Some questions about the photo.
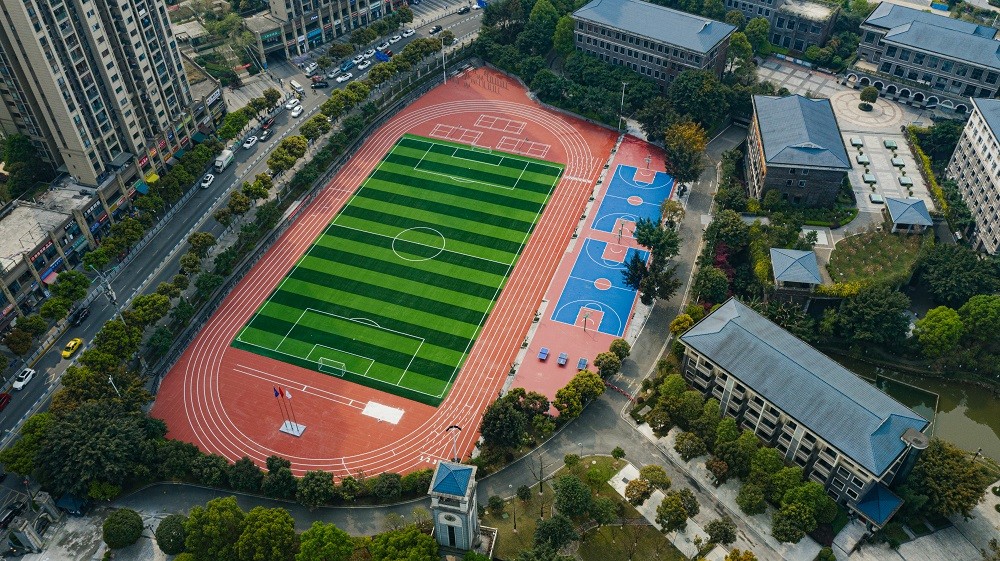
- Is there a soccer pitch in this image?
Yes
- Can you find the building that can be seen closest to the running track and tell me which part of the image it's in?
bottom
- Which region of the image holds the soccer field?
center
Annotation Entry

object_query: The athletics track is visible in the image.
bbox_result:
[153,68,623,491]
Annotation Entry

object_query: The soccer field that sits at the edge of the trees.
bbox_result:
[229,134,564,406]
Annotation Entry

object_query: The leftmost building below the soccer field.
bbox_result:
[433,465,478,547]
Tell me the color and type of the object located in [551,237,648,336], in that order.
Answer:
blue basketball court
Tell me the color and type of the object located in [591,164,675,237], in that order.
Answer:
blue basketball court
